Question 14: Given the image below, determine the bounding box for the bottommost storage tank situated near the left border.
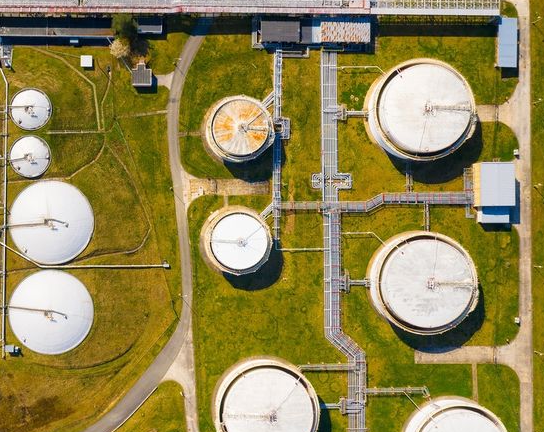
[8,269,94,355]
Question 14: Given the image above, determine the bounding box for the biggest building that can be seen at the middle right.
[472,162,516,207]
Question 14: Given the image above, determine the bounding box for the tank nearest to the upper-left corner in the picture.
[10,88,52,131]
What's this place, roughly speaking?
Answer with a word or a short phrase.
industrial area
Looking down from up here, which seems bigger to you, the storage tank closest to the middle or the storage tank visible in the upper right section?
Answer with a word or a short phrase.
the storage tank visible in the upper right section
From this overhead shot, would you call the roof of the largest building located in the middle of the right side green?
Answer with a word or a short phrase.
No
